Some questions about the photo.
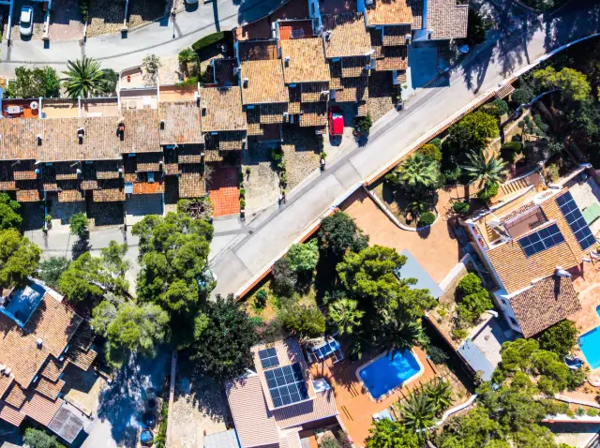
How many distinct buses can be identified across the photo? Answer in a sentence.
No buses are visible.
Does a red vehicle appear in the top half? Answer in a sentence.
Yes, there is a red vehicle in the top half.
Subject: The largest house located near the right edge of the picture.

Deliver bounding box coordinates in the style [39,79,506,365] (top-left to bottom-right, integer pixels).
[465,188,598,338]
